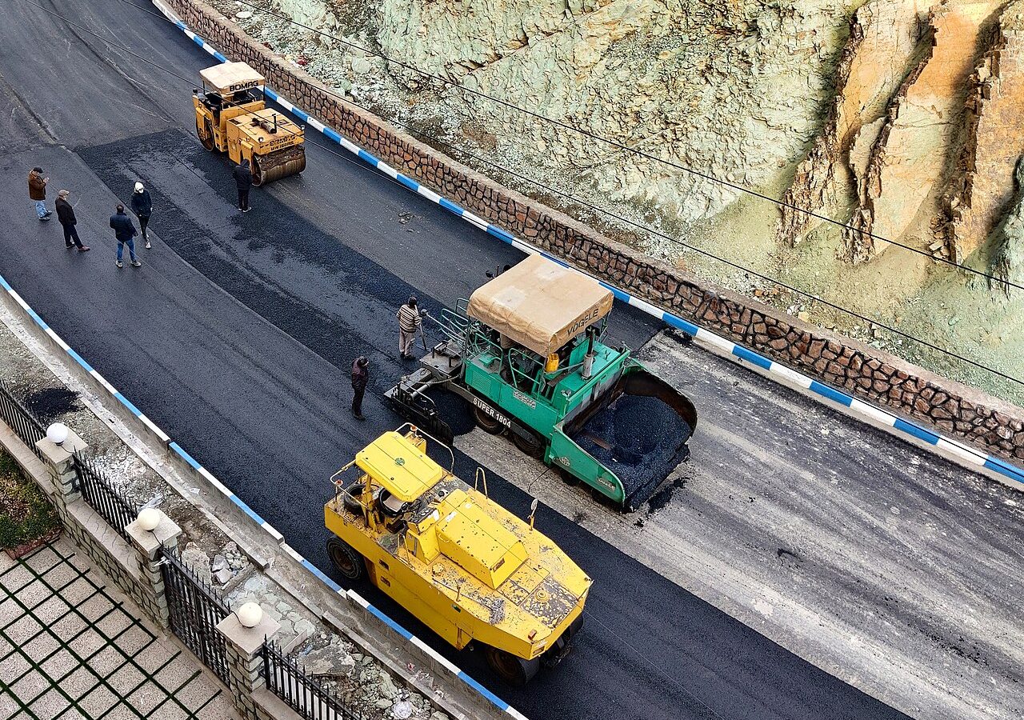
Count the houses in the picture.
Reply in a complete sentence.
No houses are visible.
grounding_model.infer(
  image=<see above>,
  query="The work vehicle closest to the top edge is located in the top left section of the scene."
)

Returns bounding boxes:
[193,65,305,188]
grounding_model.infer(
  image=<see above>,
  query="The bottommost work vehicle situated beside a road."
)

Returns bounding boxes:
[323,421,596,687]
